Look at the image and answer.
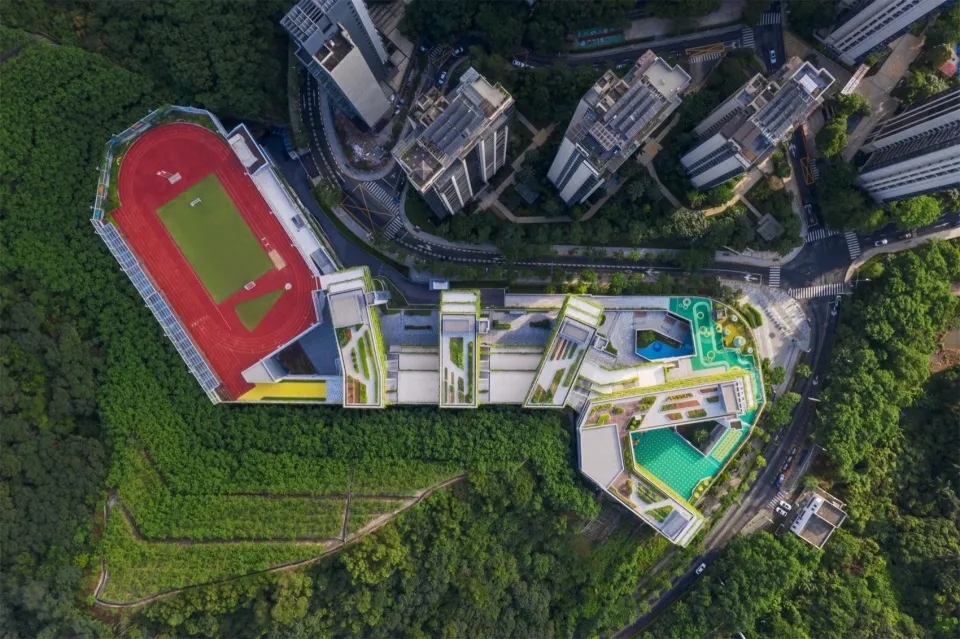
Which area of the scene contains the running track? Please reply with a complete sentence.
Look in the left portion of the view to spot the running track.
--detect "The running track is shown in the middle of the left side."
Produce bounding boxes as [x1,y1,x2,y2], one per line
[102,113,322,402]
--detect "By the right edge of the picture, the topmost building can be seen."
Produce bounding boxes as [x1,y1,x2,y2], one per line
[813,0,953,65]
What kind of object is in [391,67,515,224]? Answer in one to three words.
building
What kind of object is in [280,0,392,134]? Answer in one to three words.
building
